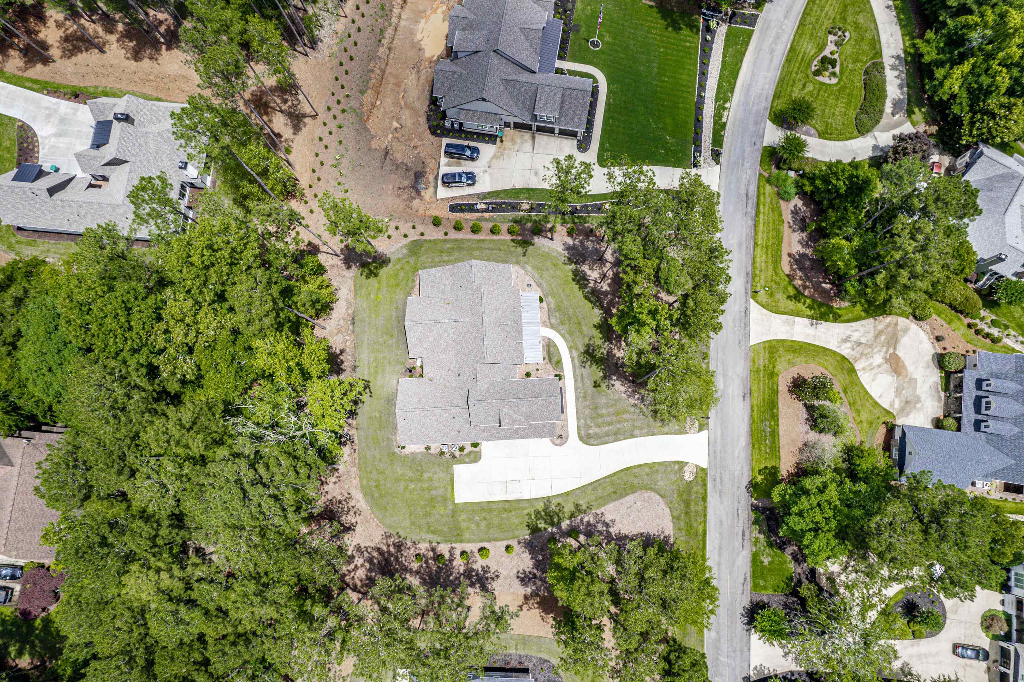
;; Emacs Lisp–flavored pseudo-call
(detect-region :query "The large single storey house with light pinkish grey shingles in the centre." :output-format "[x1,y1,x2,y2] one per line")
[396,260,564,446]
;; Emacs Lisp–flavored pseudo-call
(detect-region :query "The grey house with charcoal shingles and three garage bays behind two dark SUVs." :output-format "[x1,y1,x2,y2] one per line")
[433,0,593,138]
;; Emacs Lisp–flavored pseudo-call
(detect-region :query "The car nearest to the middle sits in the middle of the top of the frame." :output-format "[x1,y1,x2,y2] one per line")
[443,171,475,188]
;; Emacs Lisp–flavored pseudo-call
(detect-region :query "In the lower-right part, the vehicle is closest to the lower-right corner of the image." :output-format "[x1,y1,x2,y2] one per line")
[954,642,990,665]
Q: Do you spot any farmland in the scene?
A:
No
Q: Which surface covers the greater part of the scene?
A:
trees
